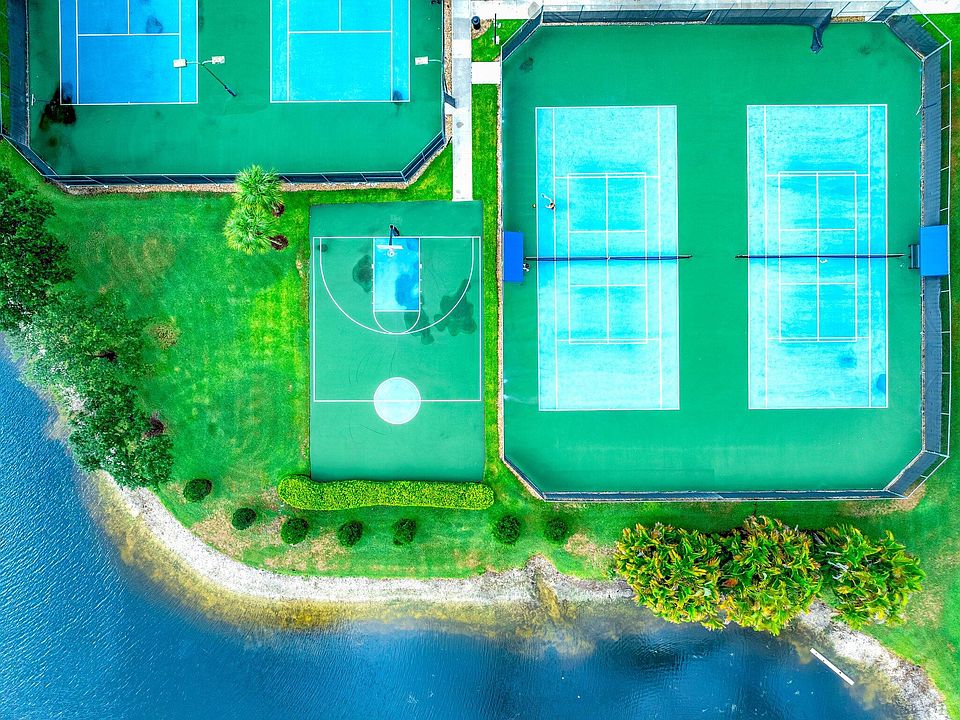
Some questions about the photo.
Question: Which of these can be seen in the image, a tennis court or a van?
tennis court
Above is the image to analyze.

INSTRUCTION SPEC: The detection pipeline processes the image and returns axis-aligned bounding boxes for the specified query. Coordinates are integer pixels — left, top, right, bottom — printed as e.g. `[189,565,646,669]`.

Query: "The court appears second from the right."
[536,105,680,412]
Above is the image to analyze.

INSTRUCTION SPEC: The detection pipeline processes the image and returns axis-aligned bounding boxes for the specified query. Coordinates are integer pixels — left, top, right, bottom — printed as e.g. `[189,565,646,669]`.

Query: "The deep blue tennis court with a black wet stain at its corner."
[58,0,200,103]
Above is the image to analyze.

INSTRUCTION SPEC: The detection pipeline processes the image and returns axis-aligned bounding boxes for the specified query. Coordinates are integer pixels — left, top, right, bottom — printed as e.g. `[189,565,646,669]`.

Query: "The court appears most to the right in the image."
[746,103,890,410]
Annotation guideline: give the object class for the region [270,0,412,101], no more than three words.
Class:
tennis court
